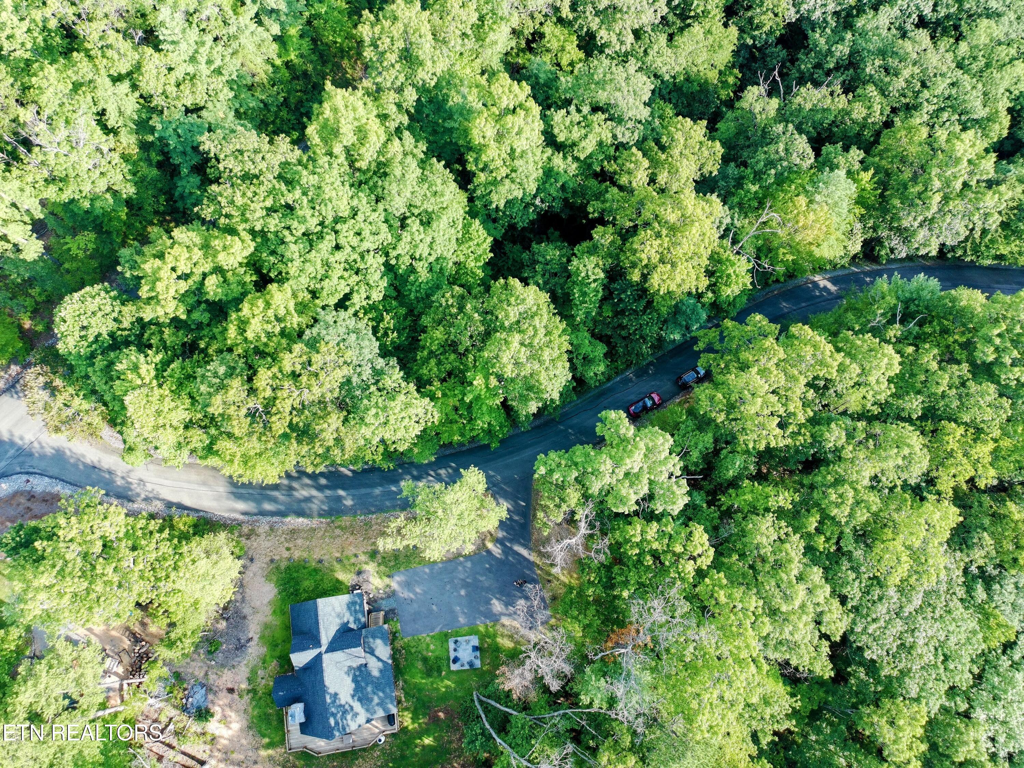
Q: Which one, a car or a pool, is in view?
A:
car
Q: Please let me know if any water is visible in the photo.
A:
No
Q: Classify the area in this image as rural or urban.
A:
rural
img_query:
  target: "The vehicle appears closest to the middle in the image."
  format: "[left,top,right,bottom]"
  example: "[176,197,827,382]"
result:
[627,391,663,417]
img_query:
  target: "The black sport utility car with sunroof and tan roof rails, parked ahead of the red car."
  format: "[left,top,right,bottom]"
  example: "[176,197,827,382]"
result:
[673,365,710,390]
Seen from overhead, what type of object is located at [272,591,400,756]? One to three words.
house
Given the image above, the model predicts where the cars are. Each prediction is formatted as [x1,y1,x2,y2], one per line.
[673,365,710,390]
[627,391,663,417]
